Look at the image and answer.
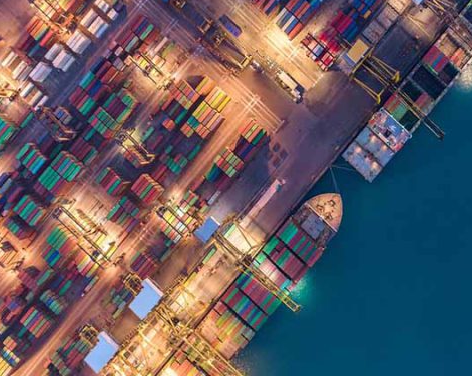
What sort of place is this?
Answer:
port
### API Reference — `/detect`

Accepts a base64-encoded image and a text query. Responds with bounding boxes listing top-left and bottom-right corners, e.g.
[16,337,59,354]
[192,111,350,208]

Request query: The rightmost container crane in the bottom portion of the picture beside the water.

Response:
[192,206,304,309]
